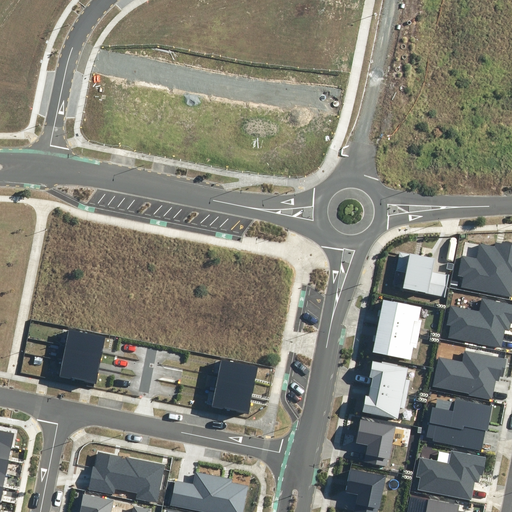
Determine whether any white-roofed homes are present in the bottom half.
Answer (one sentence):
Yes, looking in the bottom half, one can make out a white-roofed home.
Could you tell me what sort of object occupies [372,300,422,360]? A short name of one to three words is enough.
house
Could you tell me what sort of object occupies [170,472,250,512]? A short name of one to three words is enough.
house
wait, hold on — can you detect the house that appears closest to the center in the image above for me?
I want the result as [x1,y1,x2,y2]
[214,360,258,414]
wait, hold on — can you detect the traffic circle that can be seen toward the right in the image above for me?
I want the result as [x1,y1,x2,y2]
[328,188,374,235]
